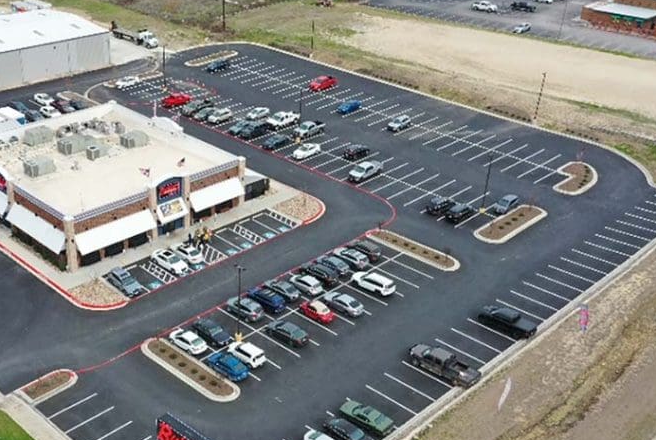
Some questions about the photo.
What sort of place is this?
parking lot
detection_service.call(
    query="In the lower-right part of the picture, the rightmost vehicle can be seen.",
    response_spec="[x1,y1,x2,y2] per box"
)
[474,302,536,339]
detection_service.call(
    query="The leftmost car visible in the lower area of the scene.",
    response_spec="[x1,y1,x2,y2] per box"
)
[112,262,147,293]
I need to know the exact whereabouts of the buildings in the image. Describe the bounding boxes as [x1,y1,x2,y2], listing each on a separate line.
[0,101,266,274]
[582,0,656,34]
[0,9,113,90]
